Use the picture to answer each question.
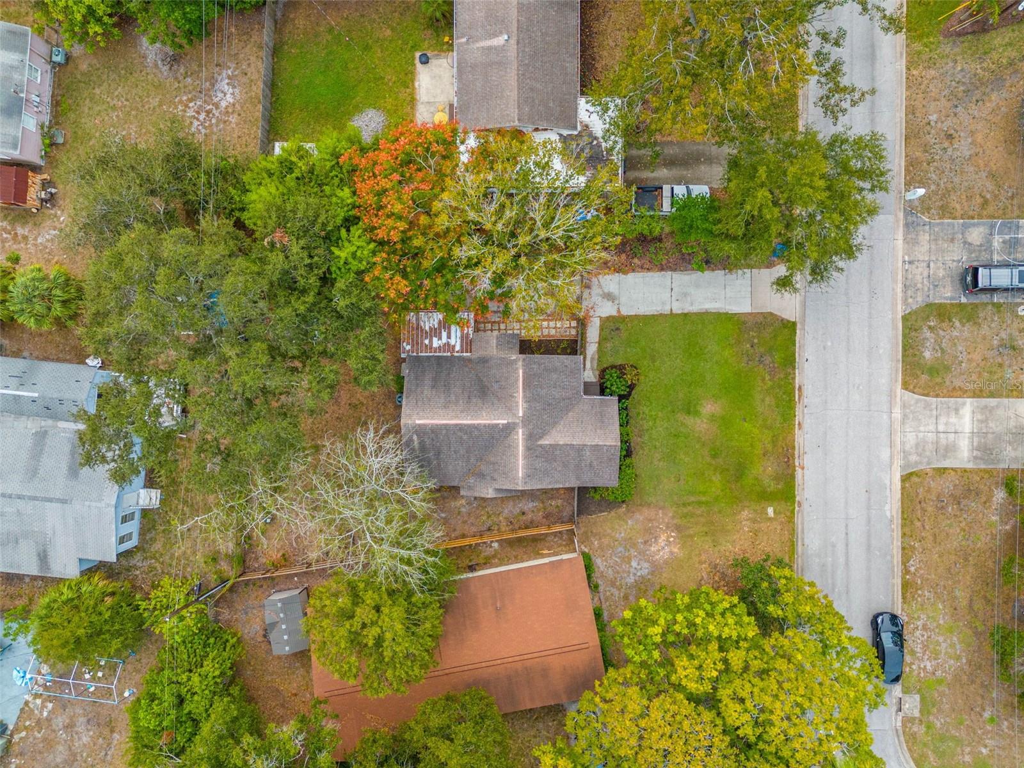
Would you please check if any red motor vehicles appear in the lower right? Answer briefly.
No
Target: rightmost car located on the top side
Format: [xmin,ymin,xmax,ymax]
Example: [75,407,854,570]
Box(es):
[963,261,1024,296]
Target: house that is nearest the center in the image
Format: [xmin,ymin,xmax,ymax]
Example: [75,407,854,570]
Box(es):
[401,333,620,497]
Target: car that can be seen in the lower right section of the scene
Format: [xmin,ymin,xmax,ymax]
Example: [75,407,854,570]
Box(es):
[869,612,907,682]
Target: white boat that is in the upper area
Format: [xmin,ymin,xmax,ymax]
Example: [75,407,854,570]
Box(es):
[903,187,925,200]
